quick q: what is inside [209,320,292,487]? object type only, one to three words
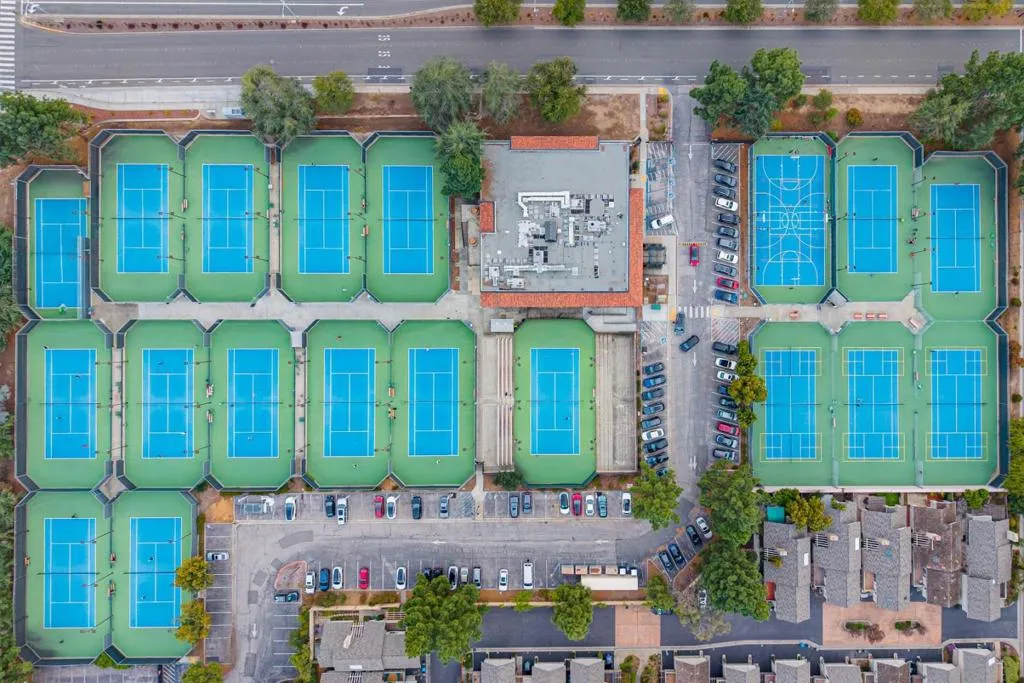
tennis court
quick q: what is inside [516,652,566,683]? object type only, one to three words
house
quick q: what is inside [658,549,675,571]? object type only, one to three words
car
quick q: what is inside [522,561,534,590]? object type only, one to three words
vehicle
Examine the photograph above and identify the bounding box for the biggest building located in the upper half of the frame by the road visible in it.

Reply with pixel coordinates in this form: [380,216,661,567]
[479,136,643,307]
